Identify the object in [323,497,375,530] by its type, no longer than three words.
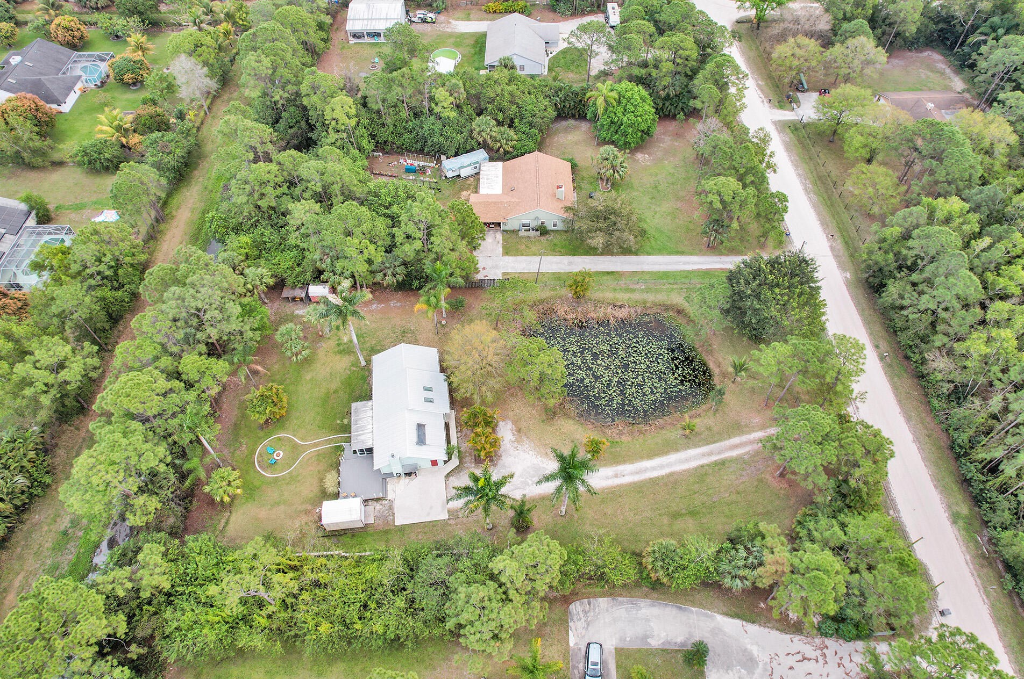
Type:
shed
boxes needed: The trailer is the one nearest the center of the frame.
[443,150,488,179]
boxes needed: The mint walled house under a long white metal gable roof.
[351,342,450,483]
